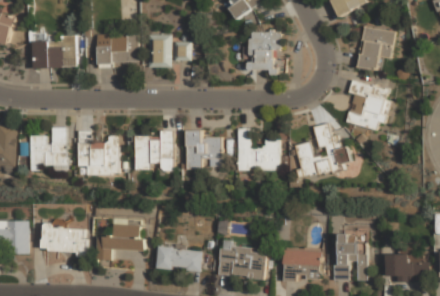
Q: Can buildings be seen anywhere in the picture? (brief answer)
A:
Yes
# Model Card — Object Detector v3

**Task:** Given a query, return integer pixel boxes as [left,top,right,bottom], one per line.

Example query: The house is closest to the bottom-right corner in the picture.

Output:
[384,254,430,296]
